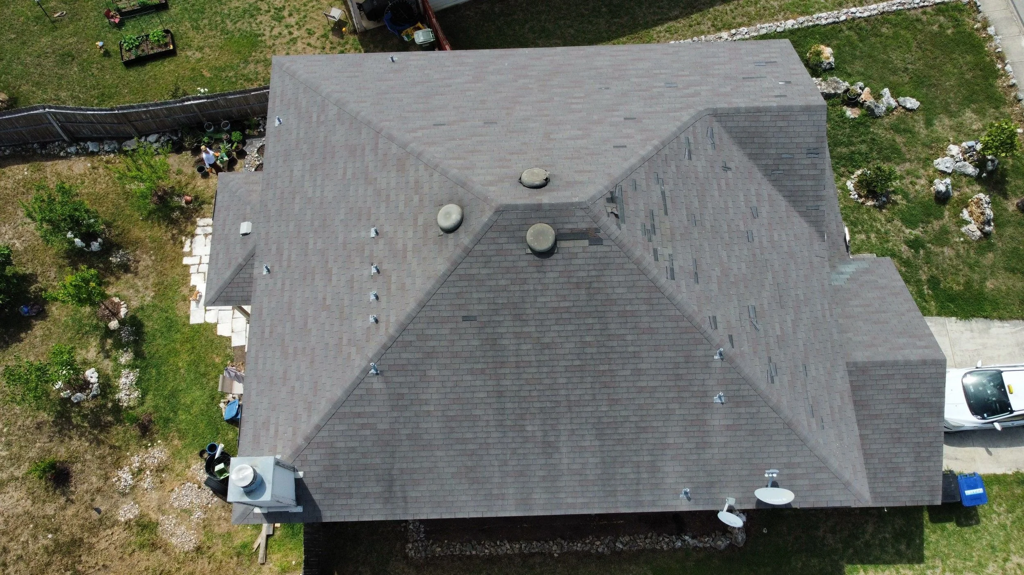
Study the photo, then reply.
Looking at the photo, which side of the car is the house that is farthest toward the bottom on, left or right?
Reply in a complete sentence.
Compared with the car, the house that is farthest toward the bottom is located further to the left.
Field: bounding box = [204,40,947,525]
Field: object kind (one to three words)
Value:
house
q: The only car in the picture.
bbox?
[944,359,1024,431]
